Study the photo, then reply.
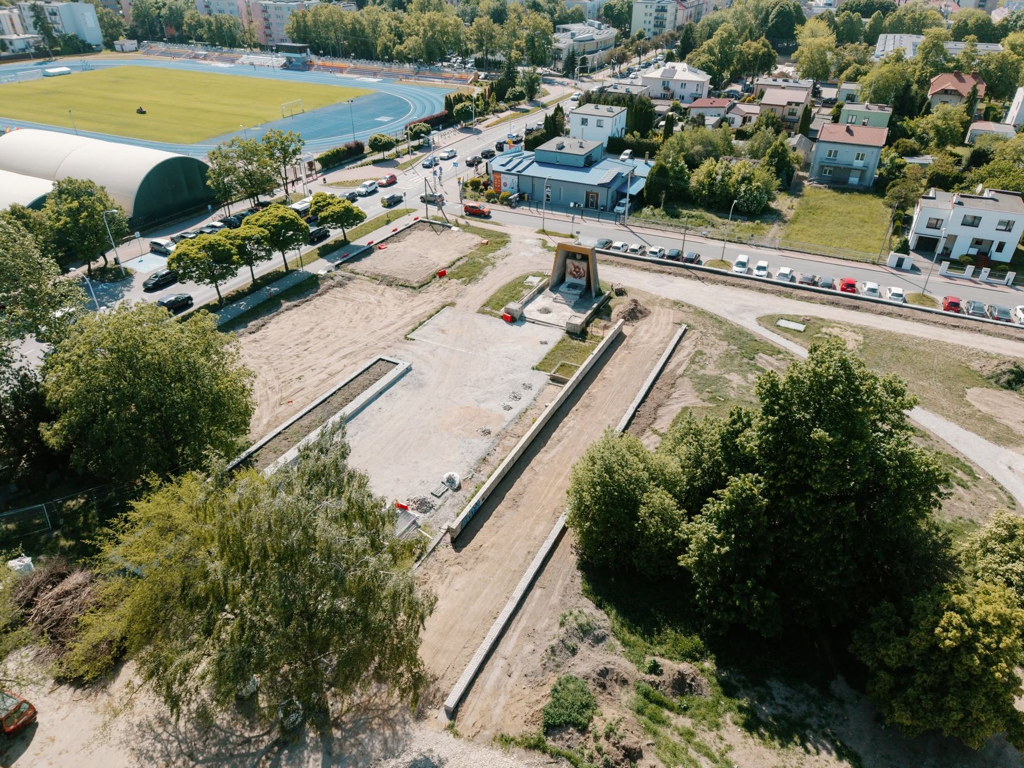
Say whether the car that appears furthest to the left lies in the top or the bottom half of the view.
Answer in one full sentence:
The car that appears furthest to the left sits in the bottom half of the picture.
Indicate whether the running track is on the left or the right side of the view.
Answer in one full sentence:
The running track is on the left side of the image.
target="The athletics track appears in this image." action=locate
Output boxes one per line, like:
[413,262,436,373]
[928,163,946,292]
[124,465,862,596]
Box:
[0,67,405,146]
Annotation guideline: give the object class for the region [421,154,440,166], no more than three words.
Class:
vehicle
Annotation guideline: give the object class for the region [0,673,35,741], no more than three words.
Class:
car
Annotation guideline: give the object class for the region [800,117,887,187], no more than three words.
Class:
house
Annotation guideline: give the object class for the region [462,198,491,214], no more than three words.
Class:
car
